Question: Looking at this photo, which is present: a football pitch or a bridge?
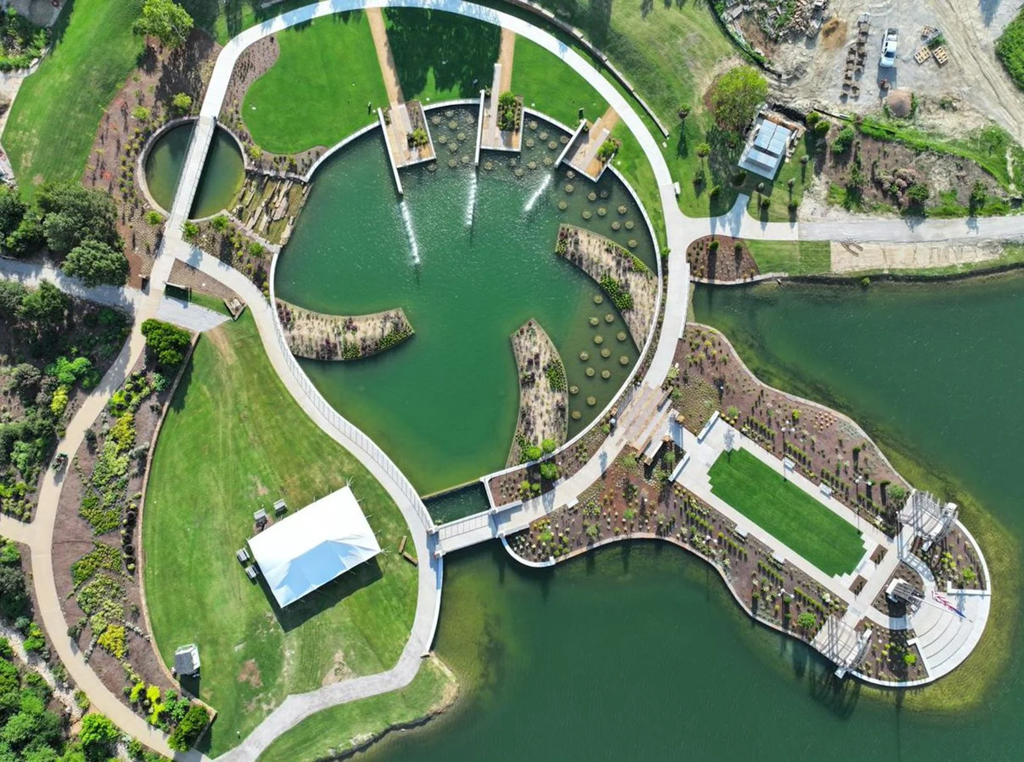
bridge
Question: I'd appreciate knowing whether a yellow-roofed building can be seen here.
No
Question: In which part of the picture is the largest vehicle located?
top right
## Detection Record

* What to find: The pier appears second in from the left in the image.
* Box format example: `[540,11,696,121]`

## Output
[476,63,525,169]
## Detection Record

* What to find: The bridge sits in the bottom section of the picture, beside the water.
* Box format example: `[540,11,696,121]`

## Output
[427,500,529,559]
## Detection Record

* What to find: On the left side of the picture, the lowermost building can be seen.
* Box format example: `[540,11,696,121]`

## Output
[175,641,207,676]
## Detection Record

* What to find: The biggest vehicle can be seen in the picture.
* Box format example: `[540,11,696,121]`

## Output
[878,27,898,68]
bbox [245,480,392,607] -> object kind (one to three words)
tent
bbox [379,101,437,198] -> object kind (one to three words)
pier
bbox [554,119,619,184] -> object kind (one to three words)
pier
